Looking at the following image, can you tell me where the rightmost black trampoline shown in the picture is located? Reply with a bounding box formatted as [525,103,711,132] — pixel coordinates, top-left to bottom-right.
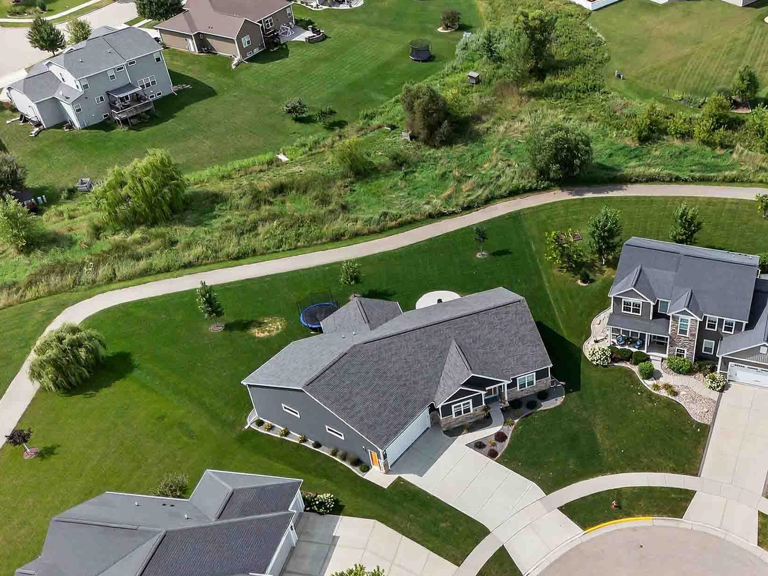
[407,41,433,64]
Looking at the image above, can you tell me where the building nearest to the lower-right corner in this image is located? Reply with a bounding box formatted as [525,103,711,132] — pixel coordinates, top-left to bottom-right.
[605,236,768,386]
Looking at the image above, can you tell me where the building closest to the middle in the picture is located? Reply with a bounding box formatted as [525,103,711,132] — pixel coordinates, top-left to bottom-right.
[236,287,559,470]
